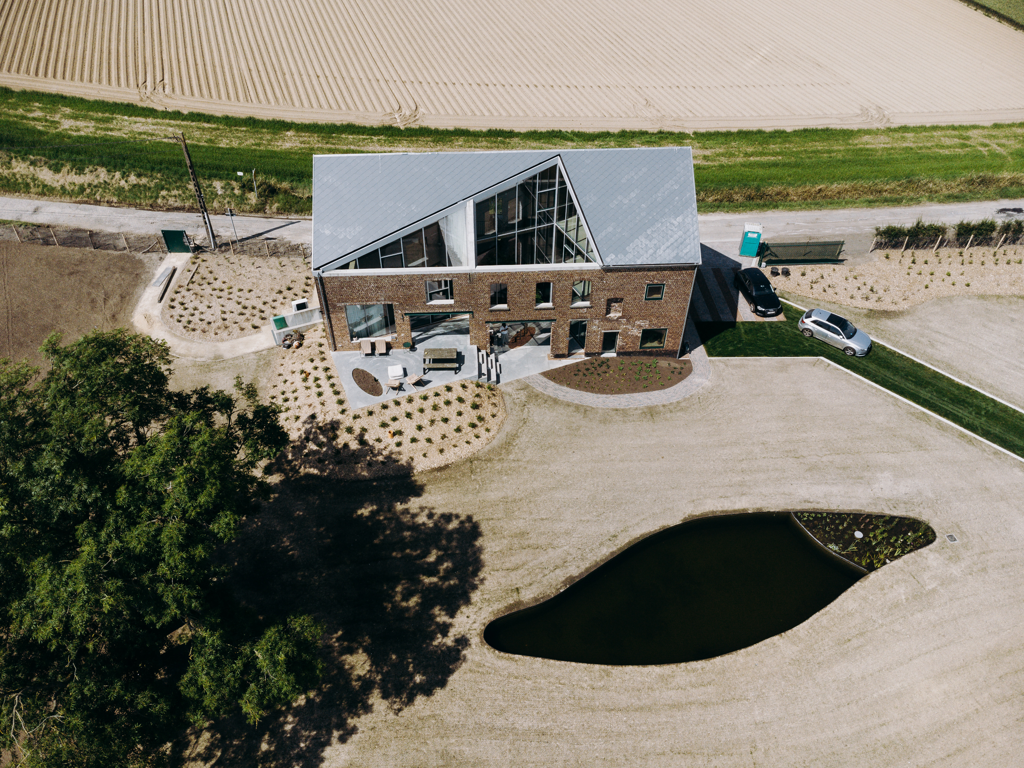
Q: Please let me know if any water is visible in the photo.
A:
Yes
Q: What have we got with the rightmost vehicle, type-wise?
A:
car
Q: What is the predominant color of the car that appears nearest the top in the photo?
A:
black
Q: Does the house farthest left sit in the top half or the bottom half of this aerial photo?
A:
top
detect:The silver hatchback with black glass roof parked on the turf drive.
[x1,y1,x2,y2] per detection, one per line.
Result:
[798,305,876,358]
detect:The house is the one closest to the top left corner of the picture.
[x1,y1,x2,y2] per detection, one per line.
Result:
[312,144,703,357]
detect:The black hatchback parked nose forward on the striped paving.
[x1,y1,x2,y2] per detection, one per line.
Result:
[739,265,784,315]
